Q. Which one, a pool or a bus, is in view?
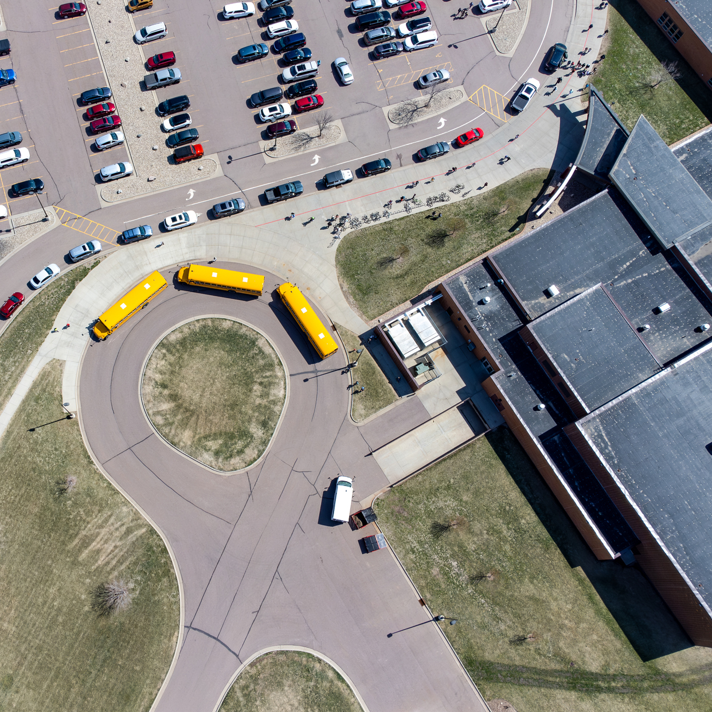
bus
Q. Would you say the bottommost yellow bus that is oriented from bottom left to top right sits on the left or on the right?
left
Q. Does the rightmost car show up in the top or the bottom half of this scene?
top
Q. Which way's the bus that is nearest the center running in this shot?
on a diagonal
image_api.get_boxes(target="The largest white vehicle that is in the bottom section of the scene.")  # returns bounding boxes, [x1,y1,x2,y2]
[330,476,357,525]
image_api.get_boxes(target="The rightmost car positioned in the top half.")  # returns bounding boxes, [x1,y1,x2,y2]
[543,41,570,76]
